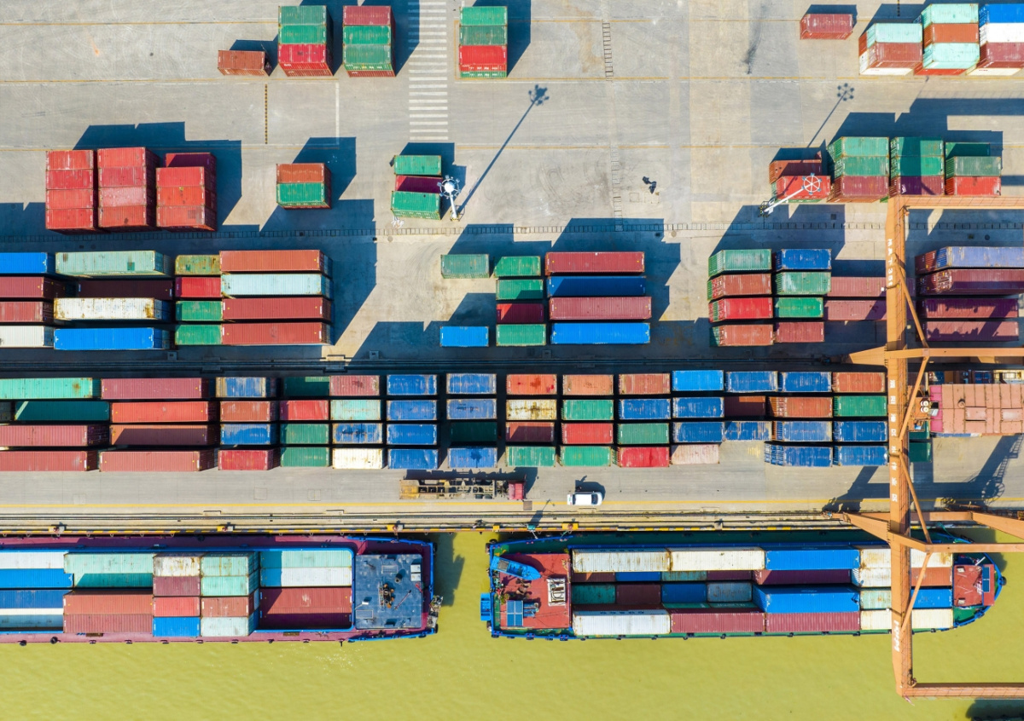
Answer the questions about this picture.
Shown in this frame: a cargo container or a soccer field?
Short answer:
cargo container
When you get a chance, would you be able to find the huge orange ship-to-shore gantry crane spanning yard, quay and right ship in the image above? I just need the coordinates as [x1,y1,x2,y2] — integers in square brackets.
[814,194,1024,701]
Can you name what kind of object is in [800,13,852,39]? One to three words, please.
shipping container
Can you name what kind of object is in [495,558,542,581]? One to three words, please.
boat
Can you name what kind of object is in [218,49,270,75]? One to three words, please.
shipping container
